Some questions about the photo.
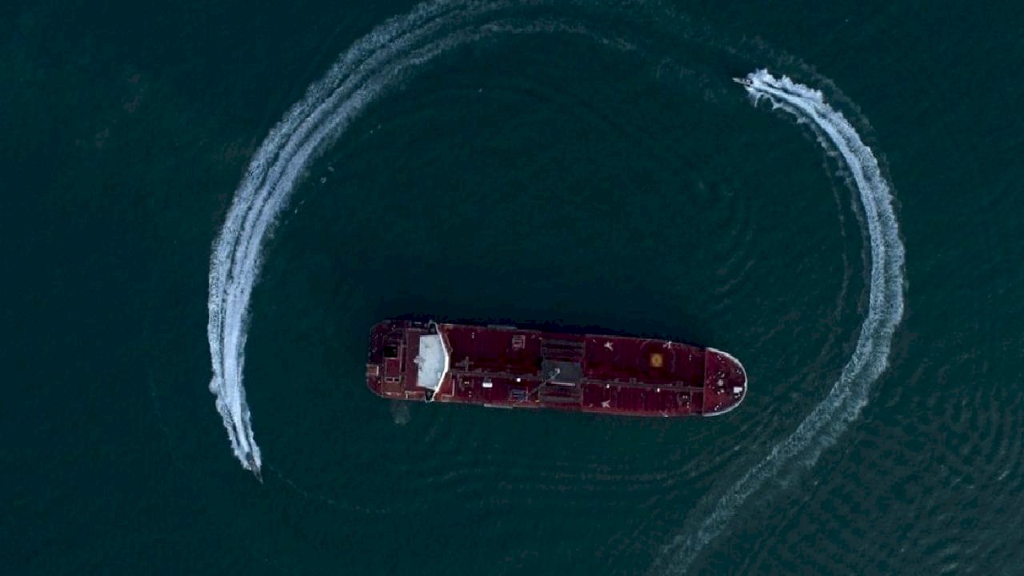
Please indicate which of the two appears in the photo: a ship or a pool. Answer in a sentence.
Looking from above, you can make out a ship.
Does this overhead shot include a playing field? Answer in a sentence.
No, the picture doesn't show any playing field.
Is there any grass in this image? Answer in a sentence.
No, the picture contains no grass.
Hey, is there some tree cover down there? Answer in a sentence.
No, no tree cover is visible.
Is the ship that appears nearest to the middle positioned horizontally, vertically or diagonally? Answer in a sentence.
The ship that appears nearest to the middle is oriented horizontally.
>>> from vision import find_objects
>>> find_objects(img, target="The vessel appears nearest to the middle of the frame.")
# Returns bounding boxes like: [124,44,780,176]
[366,320,747,417]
